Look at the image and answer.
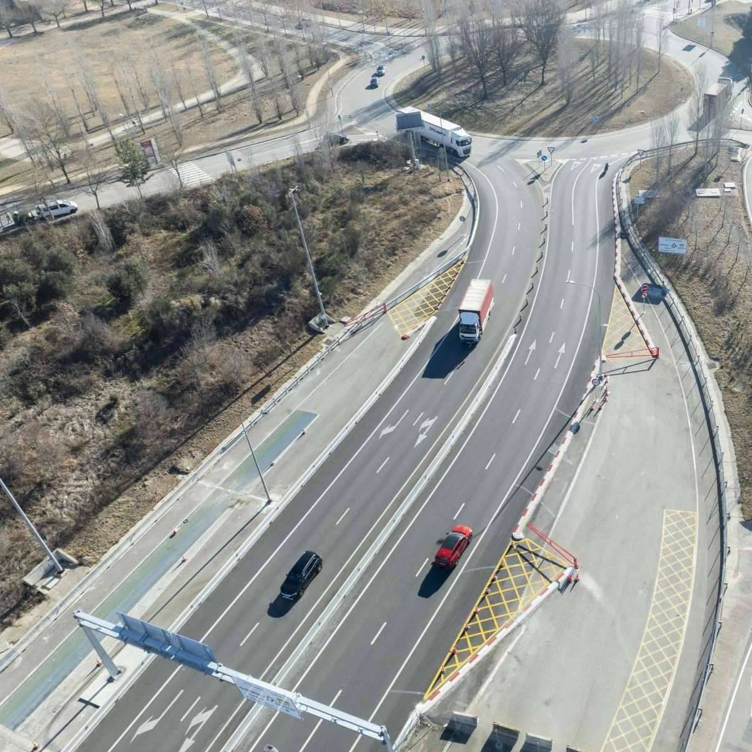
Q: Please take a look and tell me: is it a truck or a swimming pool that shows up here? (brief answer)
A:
truck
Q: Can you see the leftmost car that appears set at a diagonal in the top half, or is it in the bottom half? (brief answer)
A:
bottom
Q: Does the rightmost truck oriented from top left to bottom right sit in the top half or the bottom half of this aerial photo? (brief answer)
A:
top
